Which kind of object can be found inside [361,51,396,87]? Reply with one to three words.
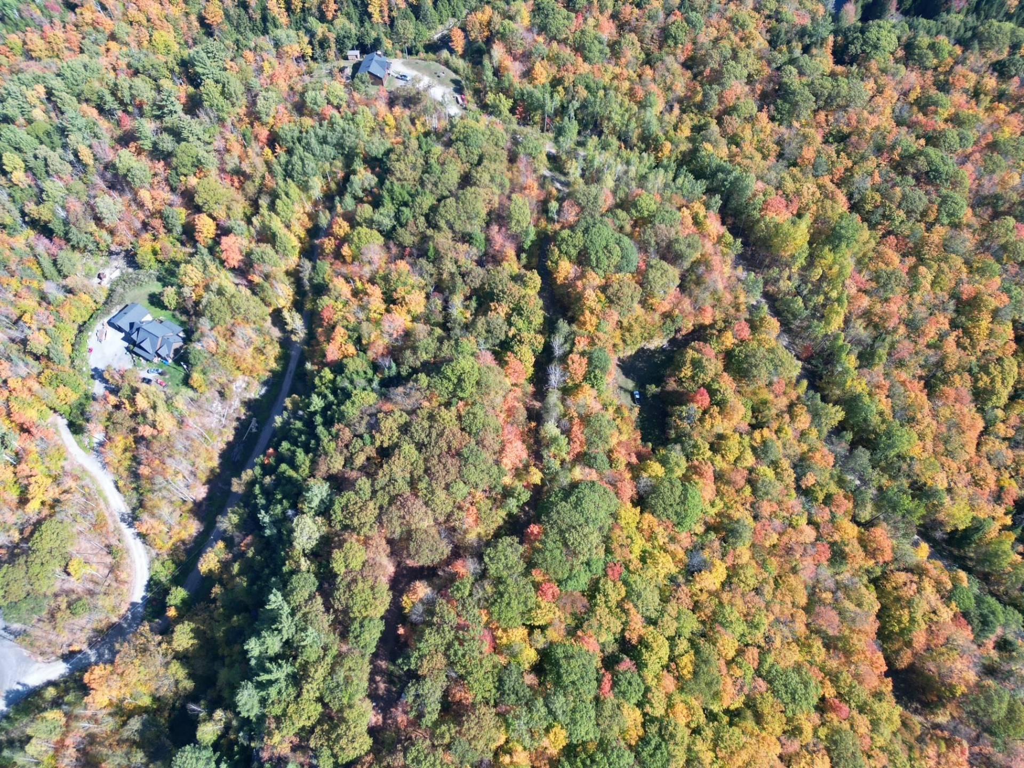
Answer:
house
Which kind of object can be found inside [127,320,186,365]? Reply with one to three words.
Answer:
house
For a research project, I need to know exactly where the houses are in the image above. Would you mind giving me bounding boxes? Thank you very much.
[127,320,186,365]
[361,51,396,87]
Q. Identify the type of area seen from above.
forest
